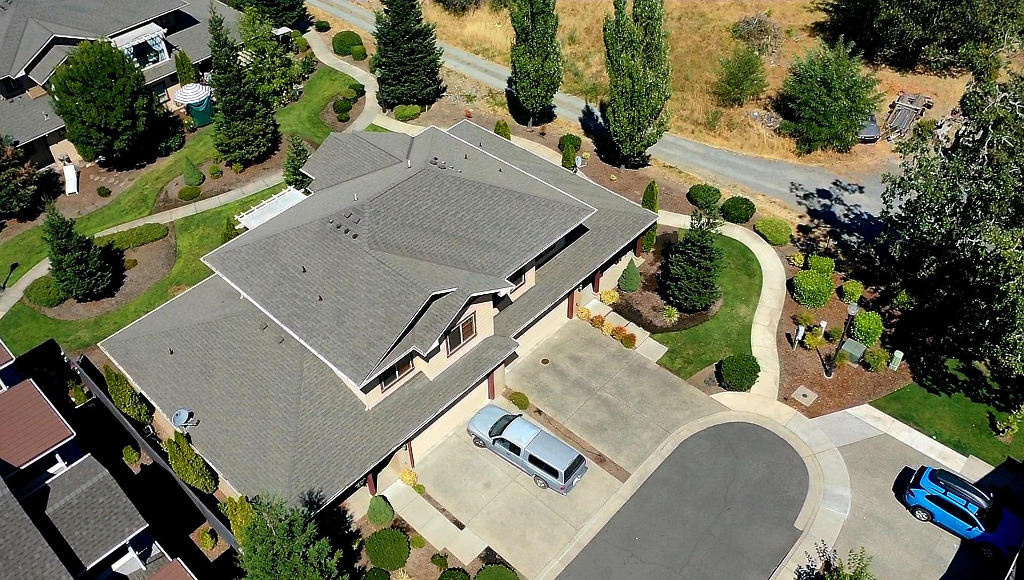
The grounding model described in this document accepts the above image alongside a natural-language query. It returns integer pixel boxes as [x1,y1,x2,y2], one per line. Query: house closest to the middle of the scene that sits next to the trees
[95,118,664,529]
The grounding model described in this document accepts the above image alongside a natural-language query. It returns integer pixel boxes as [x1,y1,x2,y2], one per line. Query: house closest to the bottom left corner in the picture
[0,342,199,580]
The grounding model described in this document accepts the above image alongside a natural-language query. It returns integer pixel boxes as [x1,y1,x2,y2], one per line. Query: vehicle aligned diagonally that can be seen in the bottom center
[467,403,593,499]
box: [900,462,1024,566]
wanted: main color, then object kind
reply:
blue car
